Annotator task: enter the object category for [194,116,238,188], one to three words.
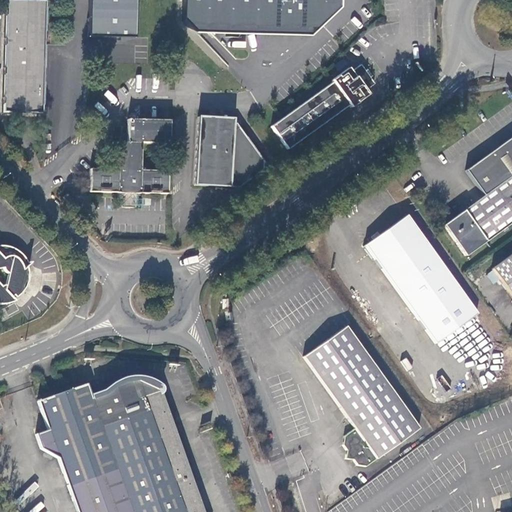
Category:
building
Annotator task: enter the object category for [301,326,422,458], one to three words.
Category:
building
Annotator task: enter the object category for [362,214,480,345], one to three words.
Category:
warehouse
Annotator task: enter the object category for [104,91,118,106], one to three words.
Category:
vehicle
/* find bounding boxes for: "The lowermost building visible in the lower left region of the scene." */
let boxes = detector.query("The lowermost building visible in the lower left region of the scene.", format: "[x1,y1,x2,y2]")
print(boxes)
[33,374,206,512]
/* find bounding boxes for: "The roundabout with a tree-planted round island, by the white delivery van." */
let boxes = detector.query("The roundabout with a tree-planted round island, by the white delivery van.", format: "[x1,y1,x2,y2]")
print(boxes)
[90,252,196,344]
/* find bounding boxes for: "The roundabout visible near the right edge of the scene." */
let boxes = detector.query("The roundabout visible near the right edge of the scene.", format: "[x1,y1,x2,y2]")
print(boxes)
[440,0,512,84]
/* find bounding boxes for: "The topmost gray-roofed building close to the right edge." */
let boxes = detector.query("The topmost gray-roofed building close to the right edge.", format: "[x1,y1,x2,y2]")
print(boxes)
[464,137,512,194]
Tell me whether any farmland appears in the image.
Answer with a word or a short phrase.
No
